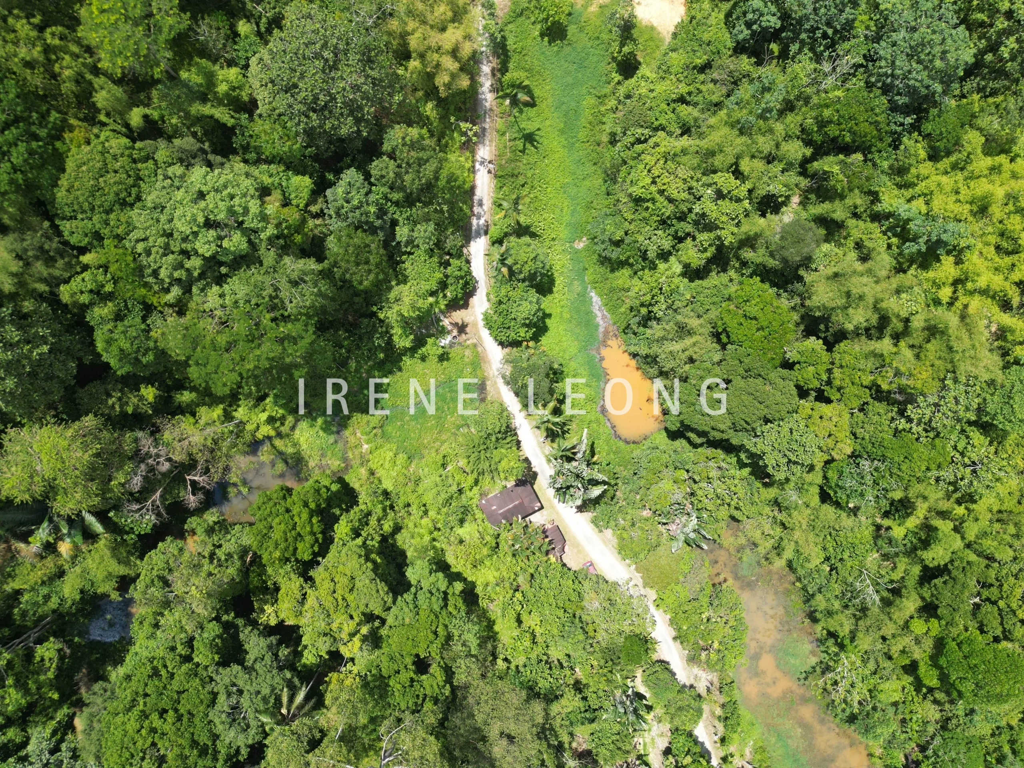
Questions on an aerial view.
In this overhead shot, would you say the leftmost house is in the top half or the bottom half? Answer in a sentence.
The leftmost house is in the bottom half of the image.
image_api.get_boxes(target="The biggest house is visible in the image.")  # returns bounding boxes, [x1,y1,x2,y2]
[479,476,544,532]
